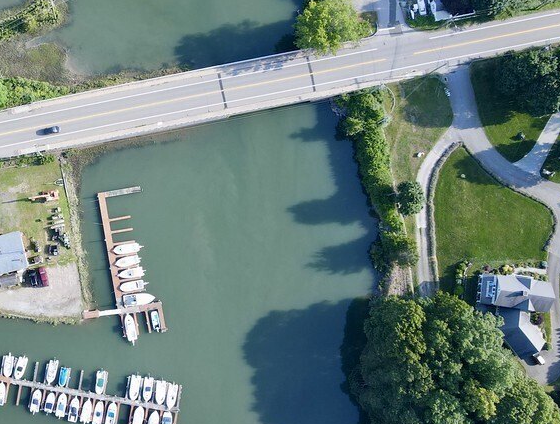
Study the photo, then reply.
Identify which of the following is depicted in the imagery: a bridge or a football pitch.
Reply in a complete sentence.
Of the two, only a bridge appears.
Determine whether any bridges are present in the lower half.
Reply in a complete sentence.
No, no bridge is visible in the lower half.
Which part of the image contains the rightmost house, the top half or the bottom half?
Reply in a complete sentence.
Seen from above, the rightmost house lies in the bottom half of the view.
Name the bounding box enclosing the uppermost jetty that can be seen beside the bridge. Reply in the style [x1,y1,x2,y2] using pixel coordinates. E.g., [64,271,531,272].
[81,186,168,339]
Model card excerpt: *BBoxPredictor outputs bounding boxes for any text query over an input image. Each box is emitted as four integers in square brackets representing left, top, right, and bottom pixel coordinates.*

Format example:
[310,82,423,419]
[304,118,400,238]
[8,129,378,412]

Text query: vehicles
[29,270,37,288]
[417,0,427,16]
[39,266,49,287]
[45,246,58,254]
[45,127,60,135]
[534,354,546,365]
